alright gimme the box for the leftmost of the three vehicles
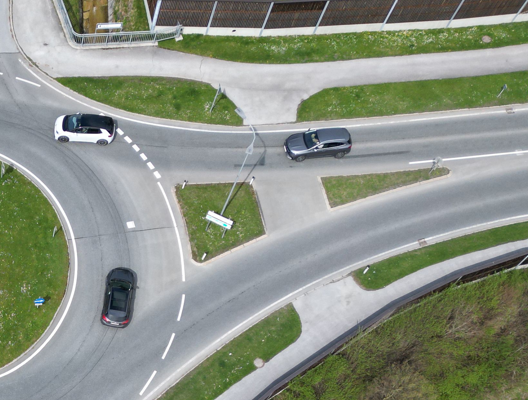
[54,113,114,146]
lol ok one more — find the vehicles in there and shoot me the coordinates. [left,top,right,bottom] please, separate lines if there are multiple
[101,264,139,328]
[285,126,358,162]
[54,113,114,146]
